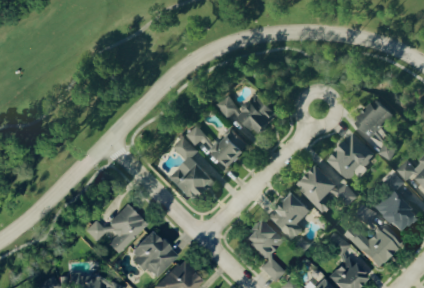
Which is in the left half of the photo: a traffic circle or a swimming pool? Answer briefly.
swimming pool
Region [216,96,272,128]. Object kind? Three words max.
house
